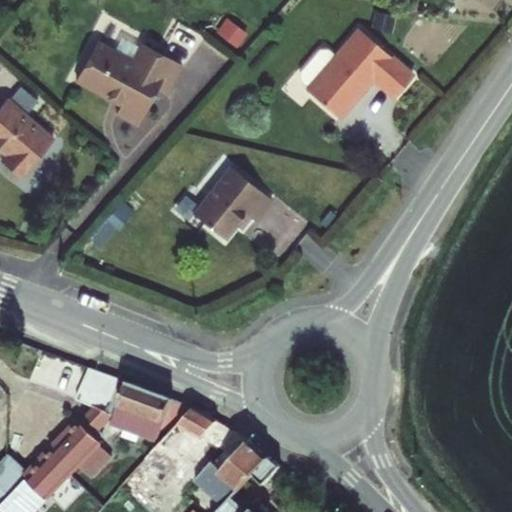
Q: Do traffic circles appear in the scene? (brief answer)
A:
Yes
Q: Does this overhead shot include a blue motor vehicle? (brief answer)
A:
No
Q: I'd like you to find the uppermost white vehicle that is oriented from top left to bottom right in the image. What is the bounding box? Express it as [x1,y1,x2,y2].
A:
[172,30,193,48]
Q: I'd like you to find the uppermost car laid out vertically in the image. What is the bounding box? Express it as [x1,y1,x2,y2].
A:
[60,367,72,390]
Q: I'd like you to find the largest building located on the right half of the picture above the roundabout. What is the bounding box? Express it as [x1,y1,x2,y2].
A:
[308,29,415,120]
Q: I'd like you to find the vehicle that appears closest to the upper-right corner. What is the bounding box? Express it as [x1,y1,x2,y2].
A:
[370,94,385,114]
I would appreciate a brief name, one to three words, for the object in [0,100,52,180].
house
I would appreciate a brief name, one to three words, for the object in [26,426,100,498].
building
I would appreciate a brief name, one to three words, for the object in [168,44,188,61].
car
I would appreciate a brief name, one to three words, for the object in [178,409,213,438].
shed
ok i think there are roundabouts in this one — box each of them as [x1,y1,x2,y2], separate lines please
[242,306,392,456]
